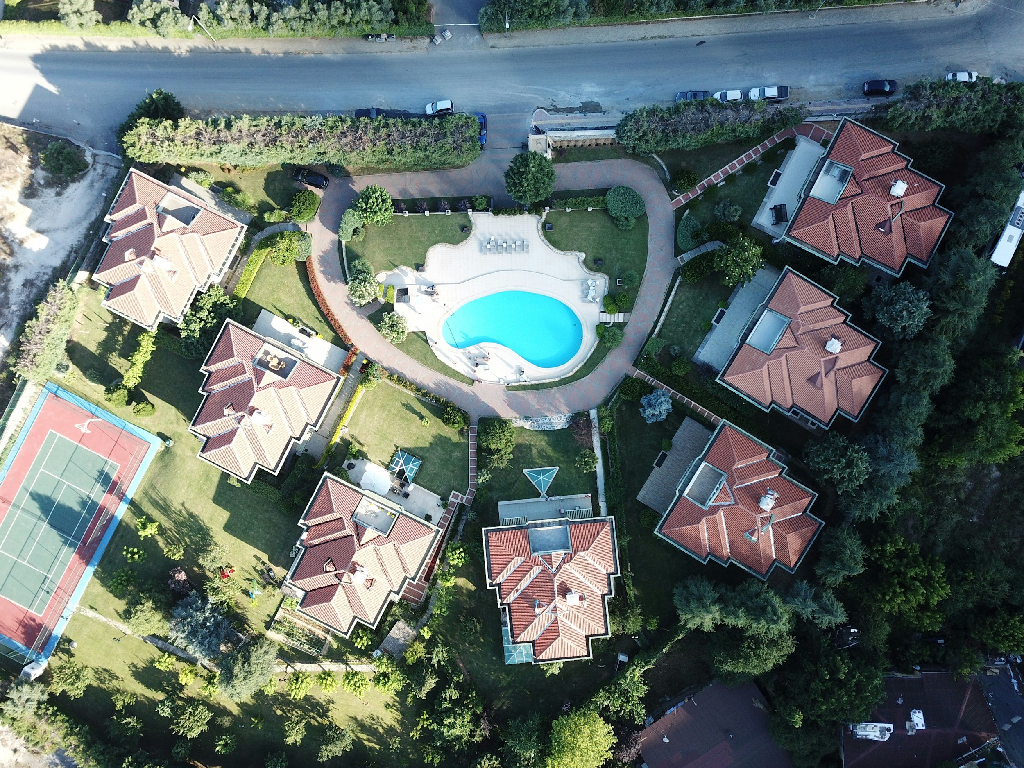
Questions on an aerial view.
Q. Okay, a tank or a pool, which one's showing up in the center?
pool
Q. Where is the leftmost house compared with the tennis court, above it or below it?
above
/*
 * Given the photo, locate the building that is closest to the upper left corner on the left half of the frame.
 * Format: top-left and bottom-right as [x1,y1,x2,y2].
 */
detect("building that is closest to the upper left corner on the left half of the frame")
[94,168,250,332]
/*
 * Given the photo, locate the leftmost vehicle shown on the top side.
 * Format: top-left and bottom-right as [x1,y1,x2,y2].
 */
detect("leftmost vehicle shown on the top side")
[294,166,329,192]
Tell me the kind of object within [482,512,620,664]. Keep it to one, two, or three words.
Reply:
house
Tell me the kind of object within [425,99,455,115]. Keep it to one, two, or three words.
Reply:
car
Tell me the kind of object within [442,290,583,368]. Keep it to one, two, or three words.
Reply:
swimming pool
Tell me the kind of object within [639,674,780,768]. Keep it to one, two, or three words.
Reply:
shed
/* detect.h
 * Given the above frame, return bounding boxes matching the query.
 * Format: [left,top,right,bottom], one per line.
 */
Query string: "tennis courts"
[0,380,162,660]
